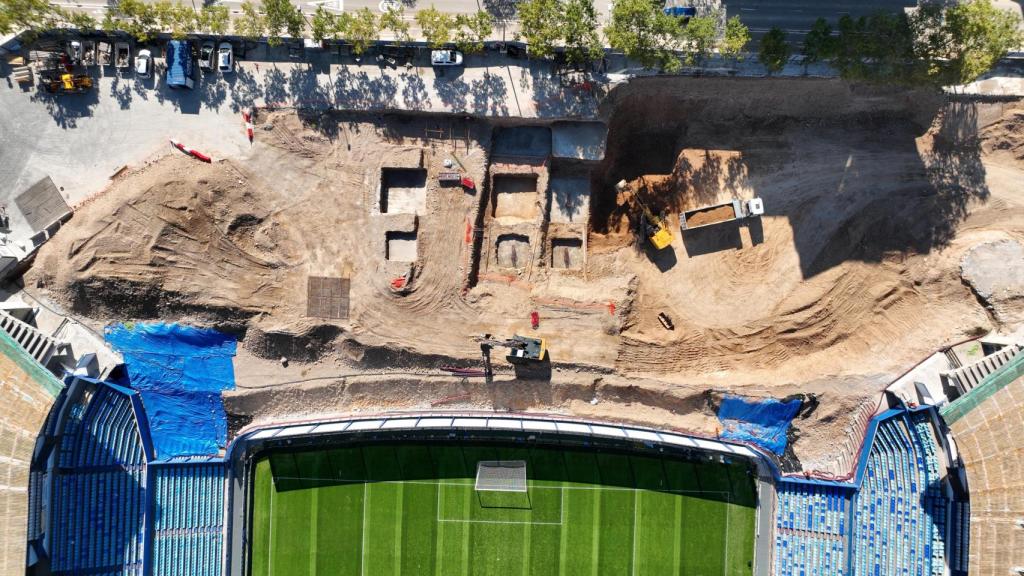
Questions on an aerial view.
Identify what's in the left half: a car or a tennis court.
car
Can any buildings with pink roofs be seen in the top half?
No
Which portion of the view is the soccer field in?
bottom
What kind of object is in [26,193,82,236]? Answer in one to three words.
building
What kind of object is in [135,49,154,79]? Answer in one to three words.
car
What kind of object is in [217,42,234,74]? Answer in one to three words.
car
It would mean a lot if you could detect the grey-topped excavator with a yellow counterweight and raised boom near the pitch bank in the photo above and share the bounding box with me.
[484,333,546,360]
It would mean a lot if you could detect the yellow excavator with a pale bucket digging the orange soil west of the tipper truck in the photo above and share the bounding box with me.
[617,183,676,254]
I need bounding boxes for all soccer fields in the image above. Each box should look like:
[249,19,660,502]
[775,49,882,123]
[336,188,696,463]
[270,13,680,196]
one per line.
[253,443,757,576]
